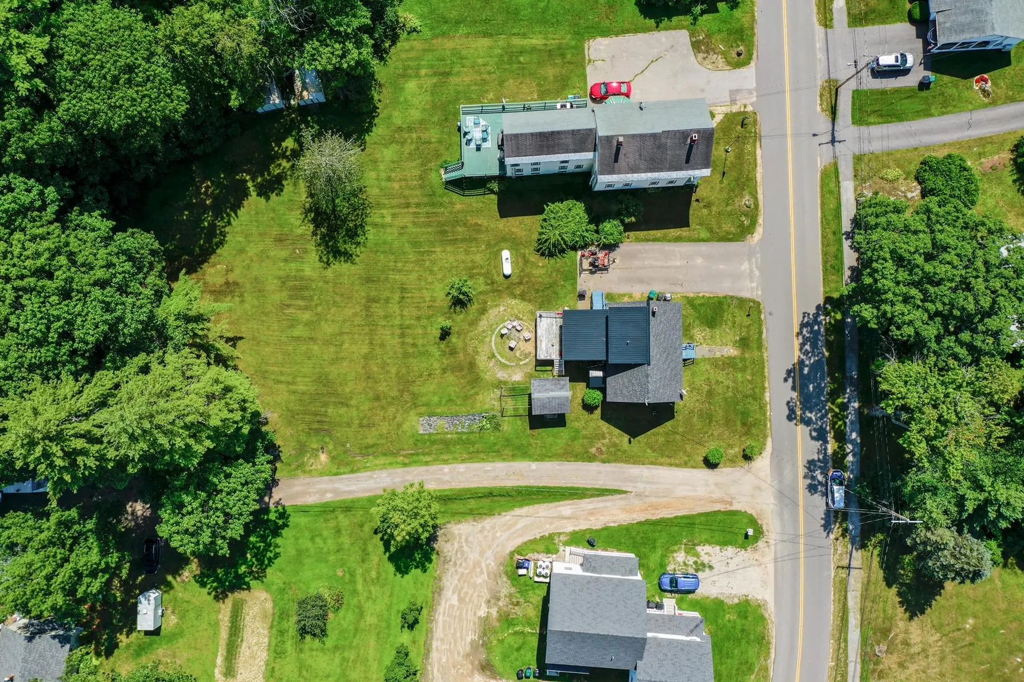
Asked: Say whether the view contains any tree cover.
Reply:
Yes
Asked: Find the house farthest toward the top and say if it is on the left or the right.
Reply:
right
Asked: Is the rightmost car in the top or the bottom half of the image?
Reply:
top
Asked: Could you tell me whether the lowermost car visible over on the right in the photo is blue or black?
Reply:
blue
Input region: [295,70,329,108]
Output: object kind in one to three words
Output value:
shed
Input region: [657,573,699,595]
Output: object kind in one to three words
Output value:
car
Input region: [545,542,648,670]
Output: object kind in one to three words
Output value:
house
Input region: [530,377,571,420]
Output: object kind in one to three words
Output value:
shed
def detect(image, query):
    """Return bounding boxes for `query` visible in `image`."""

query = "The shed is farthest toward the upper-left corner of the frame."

[259,83,290,115]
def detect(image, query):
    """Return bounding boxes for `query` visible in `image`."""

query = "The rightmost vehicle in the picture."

[868,53,912,76]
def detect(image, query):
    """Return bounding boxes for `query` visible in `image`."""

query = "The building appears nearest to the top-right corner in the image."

[912,0,1023,52]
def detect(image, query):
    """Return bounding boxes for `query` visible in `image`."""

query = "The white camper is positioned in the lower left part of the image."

[137,576,166,630]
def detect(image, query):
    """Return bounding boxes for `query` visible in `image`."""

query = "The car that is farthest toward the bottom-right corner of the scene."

[824,468,847,510]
